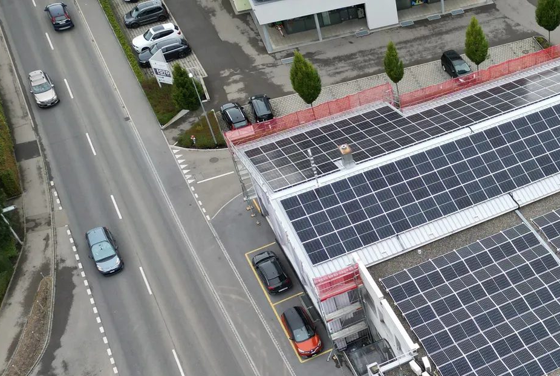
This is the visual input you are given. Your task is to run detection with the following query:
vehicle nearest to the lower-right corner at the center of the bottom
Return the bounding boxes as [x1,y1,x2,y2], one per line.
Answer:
[279,304,322,358]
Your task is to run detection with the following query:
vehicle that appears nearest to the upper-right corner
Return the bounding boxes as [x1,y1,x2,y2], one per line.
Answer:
[433,45,470,76]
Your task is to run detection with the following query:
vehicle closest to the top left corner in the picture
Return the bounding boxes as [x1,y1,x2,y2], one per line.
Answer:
[46,6,75,33]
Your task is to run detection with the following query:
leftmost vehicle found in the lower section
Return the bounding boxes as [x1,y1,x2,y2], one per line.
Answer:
[85,230,122,277]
